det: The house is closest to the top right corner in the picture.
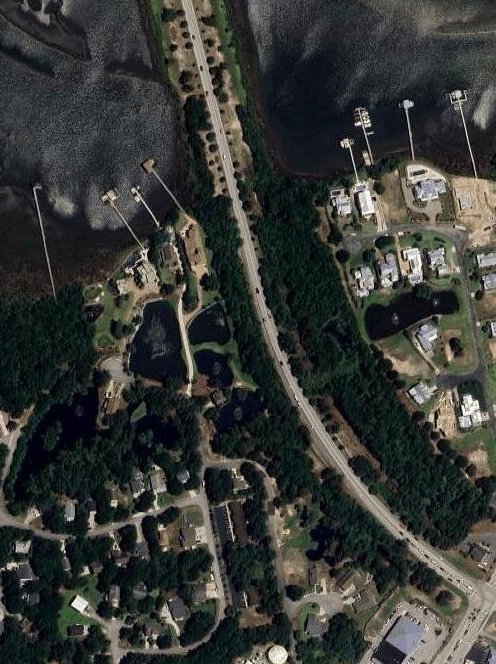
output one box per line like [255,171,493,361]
[413,180,446,201]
